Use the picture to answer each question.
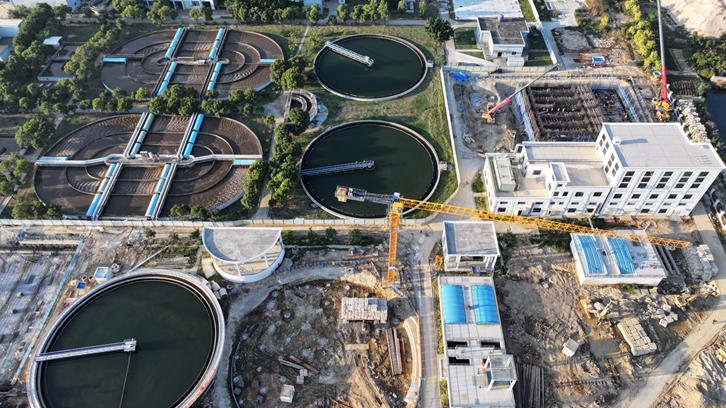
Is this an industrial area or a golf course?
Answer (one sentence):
This image shows an industrial area.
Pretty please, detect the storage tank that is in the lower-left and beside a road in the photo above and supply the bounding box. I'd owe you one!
[26,268,226,408]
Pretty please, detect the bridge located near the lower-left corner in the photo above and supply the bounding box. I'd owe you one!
[28,341,131,366]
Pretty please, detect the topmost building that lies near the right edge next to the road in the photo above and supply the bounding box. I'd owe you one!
[481,124,726,219]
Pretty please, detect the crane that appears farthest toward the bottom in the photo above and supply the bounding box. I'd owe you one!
[335,184,696,290]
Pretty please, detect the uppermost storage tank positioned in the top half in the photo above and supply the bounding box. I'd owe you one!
[313,33,432,104]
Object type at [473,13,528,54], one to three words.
building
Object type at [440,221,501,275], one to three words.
building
